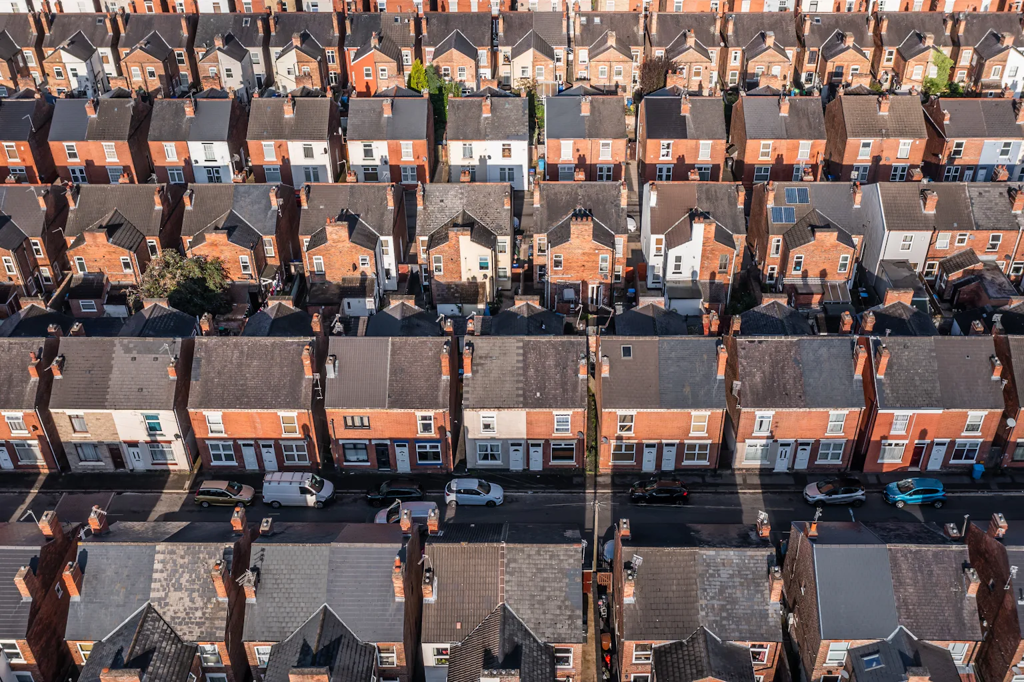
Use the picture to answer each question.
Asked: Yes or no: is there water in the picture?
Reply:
No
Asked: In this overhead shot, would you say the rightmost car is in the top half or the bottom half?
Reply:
bottom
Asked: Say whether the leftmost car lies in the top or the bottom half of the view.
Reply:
bottom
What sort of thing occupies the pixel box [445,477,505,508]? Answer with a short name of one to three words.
car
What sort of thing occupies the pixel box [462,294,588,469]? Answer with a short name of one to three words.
house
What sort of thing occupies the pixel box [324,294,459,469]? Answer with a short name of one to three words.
house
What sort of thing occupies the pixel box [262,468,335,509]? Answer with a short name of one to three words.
van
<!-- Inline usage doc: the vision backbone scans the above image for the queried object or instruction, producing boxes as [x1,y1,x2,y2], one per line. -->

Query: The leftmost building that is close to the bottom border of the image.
[0,501,86,682]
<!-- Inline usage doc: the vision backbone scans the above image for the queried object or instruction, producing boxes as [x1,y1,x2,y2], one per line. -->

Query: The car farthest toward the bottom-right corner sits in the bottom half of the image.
[882,477,951,509]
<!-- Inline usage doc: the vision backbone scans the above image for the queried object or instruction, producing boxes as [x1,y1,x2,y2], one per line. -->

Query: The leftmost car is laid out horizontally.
[198,480,261,509]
